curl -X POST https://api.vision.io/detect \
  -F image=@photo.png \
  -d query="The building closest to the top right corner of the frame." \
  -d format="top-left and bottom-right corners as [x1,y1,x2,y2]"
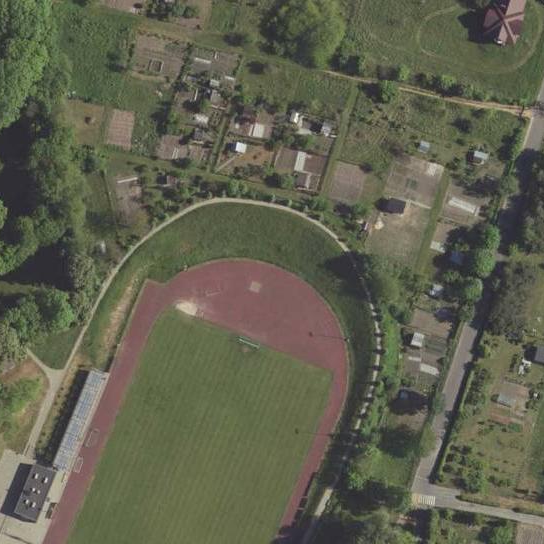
[480,0,528,44]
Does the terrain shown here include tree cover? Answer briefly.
Yes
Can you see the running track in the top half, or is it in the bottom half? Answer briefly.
bottom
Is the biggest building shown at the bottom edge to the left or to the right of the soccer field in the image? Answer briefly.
to the left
